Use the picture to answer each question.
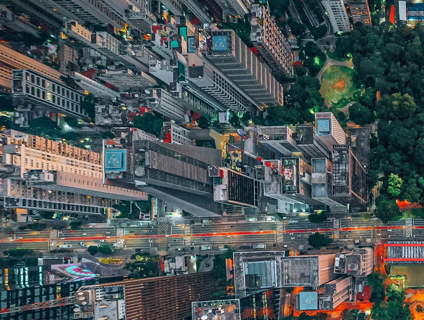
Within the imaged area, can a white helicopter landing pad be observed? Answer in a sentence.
No, there's no white helicopter landing pad here.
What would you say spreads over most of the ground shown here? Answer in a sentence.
The scene is dominated by buildings.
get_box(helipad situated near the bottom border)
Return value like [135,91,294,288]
[300,292,317,311]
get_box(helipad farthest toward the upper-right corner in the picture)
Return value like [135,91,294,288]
[317,119,331,133]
